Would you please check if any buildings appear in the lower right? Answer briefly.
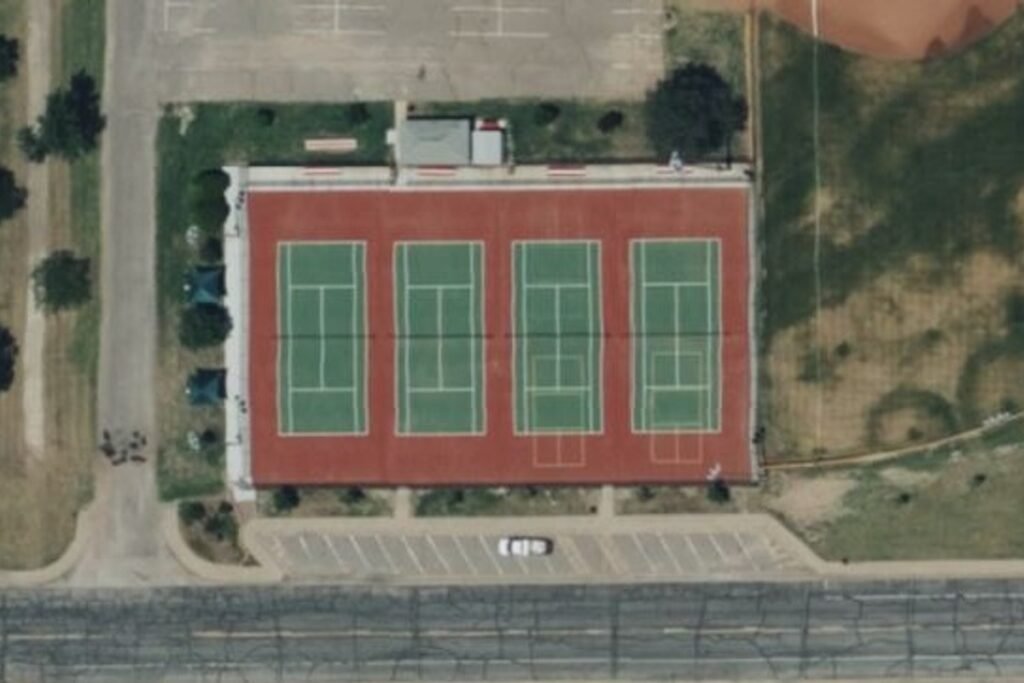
No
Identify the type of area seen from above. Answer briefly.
sports ground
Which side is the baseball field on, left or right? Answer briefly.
right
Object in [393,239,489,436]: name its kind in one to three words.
tennis court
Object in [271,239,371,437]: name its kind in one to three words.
tennis court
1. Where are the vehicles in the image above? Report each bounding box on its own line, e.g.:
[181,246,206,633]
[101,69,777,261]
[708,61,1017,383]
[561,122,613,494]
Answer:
[500,538,552,557]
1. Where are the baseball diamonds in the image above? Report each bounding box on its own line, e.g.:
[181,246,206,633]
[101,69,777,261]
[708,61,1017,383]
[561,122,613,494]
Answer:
[757,0,1024,468]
